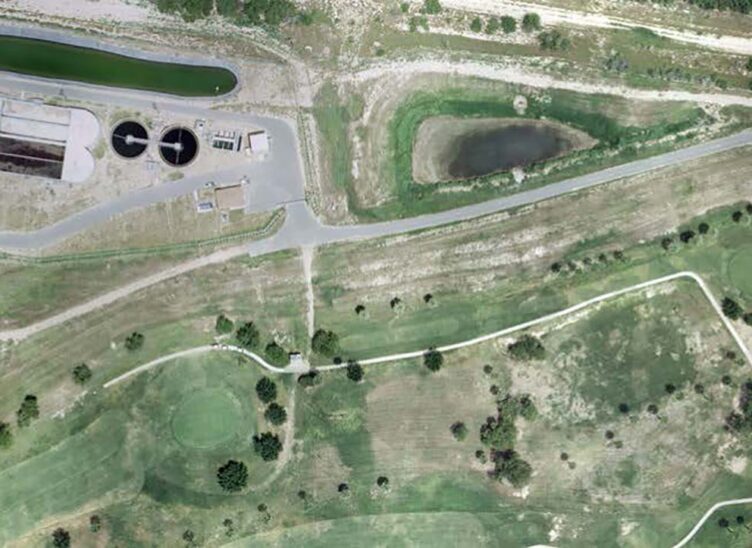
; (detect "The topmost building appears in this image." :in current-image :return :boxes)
[248,131,269,152]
